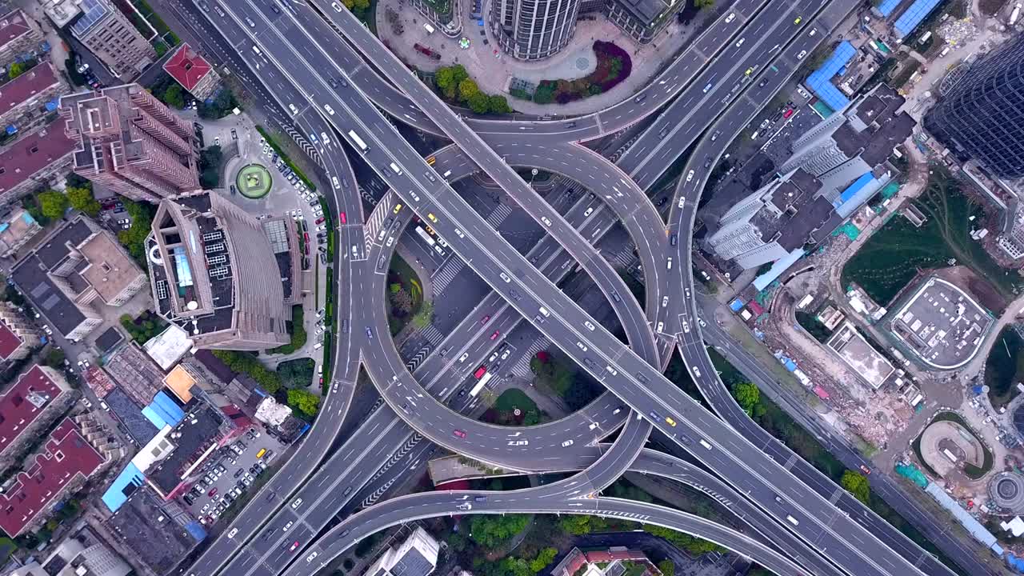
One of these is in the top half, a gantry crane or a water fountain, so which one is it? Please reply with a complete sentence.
The feature located in the top half is a water fountain.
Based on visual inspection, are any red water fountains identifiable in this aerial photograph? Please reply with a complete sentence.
No, the photo shows no red water fountain.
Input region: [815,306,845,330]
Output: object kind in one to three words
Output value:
house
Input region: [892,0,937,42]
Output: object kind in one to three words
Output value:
shed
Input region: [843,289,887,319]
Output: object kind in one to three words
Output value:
house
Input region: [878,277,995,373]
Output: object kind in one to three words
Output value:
building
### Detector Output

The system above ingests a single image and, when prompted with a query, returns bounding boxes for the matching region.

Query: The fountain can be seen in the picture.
[235,162,273,199]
